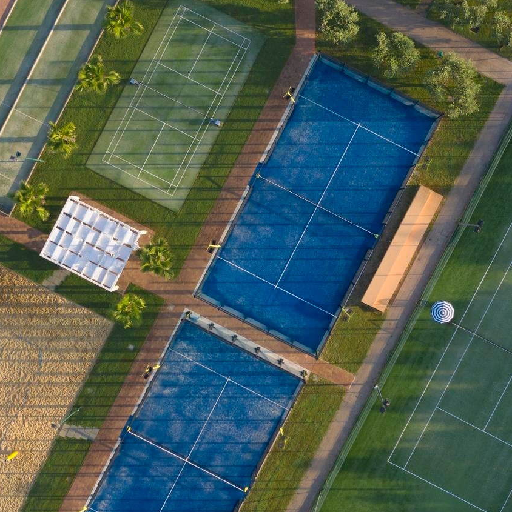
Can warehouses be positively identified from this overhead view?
No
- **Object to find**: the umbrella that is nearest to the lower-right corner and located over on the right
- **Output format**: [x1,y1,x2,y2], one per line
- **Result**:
[430,300,454,324]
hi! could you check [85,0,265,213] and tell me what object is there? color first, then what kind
green sports court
